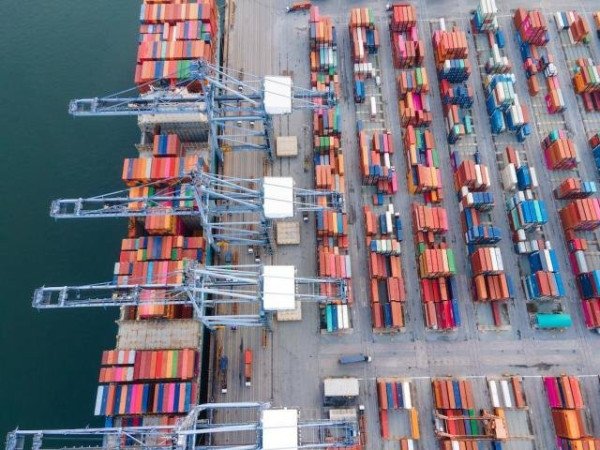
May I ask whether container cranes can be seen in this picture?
Yes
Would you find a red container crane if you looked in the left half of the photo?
No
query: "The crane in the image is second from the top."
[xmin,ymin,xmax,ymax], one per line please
[51,167,345,260]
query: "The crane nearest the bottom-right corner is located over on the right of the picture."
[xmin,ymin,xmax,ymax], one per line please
[430,411,512,445]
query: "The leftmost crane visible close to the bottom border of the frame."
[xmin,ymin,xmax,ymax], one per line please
[10,388,360,450]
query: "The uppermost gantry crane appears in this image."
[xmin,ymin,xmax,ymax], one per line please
[69,57,339,172]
